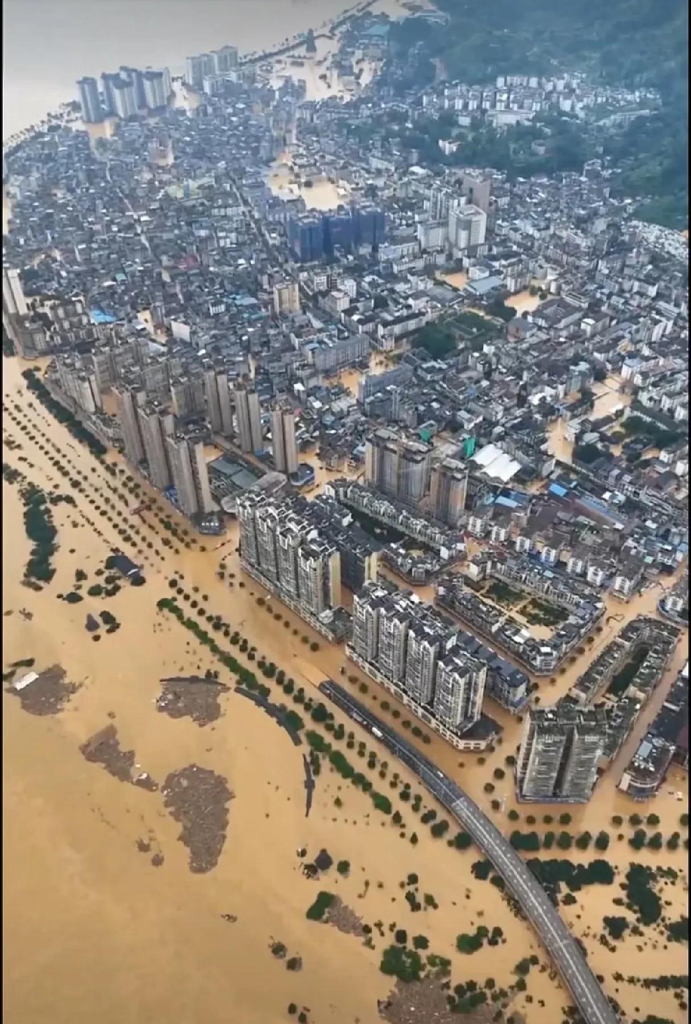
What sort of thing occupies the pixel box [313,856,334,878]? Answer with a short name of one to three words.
building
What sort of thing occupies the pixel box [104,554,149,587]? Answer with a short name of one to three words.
building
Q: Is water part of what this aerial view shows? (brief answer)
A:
Yes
